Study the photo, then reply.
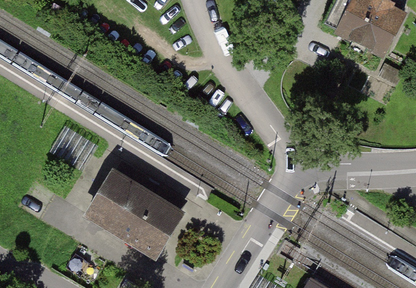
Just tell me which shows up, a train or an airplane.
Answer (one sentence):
There is a train in the scene.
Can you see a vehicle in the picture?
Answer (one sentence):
Yes, the image includes a vehicle.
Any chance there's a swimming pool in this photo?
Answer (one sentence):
No, no swimming pool can be seen from above.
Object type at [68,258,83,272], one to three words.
umbrella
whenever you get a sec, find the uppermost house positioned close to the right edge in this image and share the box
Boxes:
[334,0,406,58]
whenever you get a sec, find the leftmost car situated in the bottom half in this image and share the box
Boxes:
[21,197,43,213]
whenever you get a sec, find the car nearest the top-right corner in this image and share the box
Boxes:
[307,42,331,57]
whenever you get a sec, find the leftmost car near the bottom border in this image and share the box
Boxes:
[234,250,252,274]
